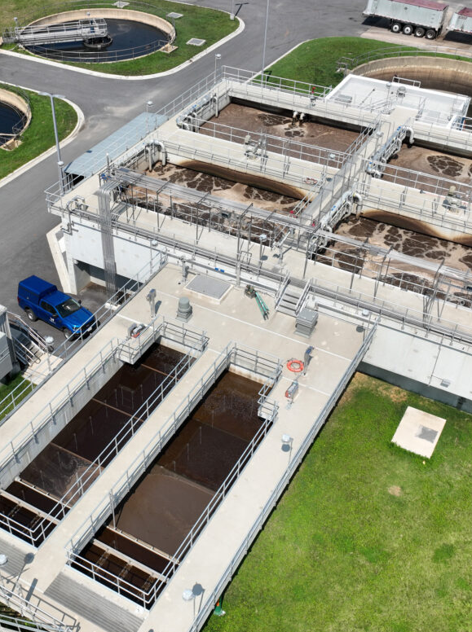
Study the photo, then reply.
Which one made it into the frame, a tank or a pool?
tank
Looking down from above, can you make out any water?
Yes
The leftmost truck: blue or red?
blue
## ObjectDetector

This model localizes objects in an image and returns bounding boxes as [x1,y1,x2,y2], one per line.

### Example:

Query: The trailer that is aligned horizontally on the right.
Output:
[362,0,450,40]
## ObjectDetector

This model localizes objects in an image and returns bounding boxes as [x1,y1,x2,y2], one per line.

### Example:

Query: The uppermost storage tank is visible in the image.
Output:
[16,8,173,65]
